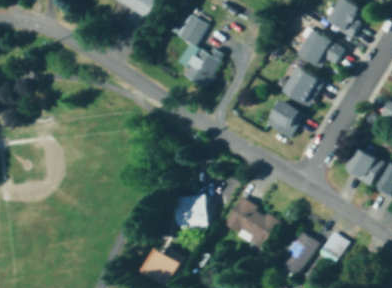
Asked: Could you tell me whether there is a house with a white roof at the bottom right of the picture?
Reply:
Yes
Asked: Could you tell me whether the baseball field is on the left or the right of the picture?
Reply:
left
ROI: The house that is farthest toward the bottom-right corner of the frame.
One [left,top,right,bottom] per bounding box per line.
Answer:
[318,231,350,264]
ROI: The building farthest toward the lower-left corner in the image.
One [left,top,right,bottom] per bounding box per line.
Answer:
[142,245,181,284]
